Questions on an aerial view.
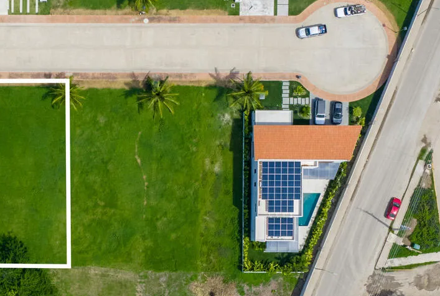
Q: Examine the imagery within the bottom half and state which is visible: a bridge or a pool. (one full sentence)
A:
It is a pool that can be seen within the bottom half.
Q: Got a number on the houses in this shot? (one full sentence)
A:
Just 1 house appears in this view.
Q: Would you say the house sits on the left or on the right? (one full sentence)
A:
You can find the house on the right side of the picture.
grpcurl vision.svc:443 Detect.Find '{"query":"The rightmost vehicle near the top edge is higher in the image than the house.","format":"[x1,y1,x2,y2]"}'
[334,2,366,17]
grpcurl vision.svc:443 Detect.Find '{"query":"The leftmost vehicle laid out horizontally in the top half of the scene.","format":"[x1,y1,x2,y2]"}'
[295,23,328,38]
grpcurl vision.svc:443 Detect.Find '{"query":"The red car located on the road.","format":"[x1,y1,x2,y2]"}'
[384,195,401,221]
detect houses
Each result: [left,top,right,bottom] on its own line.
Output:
[249,111,362,252]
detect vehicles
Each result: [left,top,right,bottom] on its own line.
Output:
[384,195,401,221]
[314,98,326,125]
[330,100,343,125]
[295,23,328,38]
[334,2,366,17]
